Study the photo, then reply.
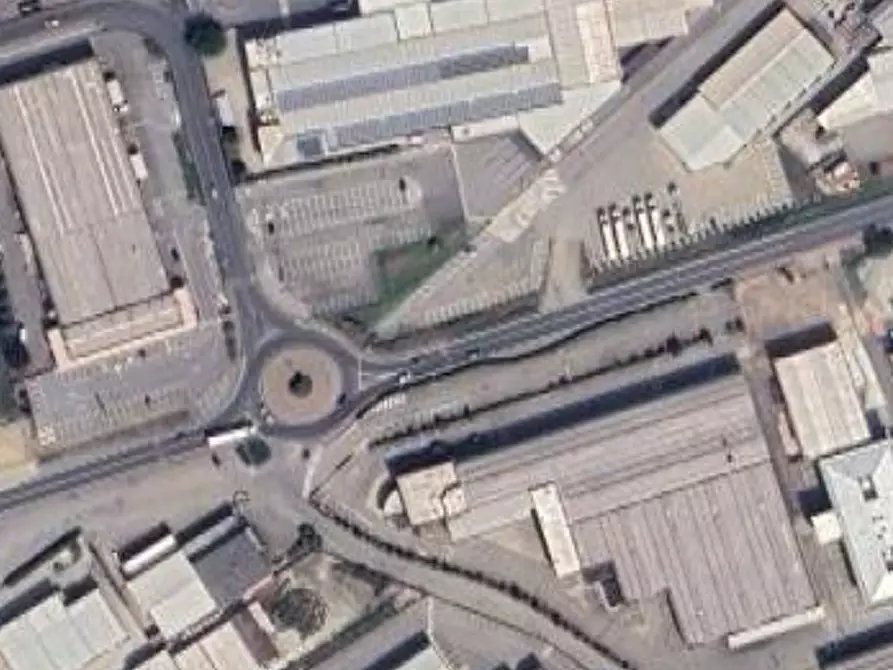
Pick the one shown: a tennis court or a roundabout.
roundabout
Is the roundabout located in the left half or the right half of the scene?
left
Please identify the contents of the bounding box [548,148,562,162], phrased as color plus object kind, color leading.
white vehicle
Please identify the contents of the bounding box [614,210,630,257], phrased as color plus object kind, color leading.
white vehicle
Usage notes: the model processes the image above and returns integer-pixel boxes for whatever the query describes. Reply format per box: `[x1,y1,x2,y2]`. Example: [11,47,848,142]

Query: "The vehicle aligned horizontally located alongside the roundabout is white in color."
[207,425,255,444]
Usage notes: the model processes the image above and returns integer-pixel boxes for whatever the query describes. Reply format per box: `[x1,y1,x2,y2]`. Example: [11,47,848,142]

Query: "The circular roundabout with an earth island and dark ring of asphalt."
[245,328,358,442]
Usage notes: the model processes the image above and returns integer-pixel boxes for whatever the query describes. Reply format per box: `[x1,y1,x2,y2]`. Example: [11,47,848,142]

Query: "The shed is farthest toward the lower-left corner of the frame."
[0,587,134,670]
